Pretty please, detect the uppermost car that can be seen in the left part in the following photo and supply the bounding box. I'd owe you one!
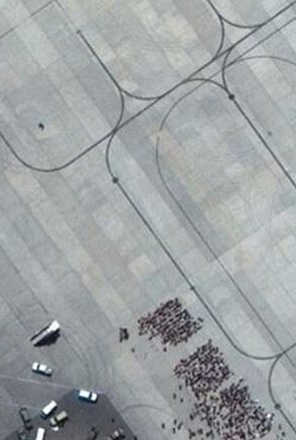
[31,363,54,376]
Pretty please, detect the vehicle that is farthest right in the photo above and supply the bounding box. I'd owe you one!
[106,428,126,440]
